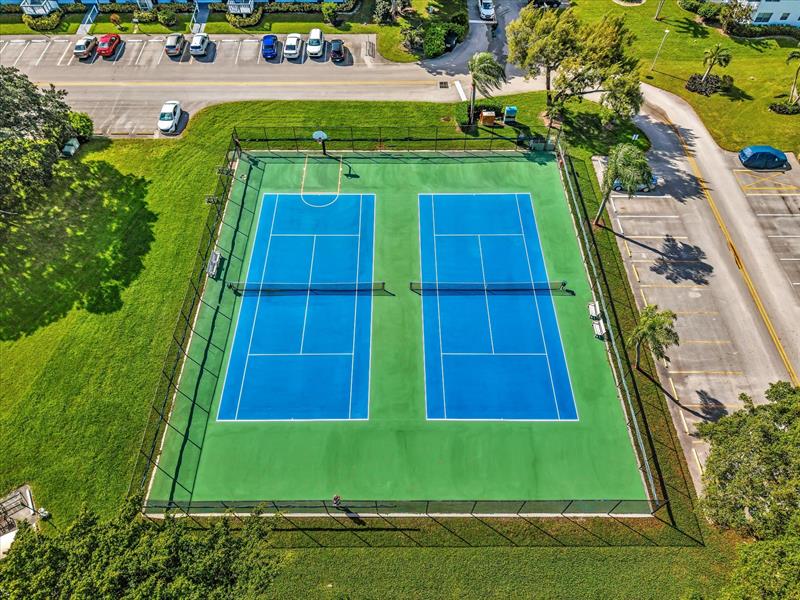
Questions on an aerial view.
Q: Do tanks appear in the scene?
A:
No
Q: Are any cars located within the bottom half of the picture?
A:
No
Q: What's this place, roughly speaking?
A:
sports ground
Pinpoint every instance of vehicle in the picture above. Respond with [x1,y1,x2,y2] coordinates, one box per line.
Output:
[73,34,101,57]
[479,0,497,20]
[329,37,346,58]
[642,170,663,191]
[738,144,791,166]
[98,35,124,56]
[155,102,184,133]
[305,24,326,54]
[259,34,280,57]
[283,34,302,56]
[165,33,190,55]
[190,32,212,55]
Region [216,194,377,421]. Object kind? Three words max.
tennis court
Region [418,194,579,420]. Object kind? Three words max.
tennis court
